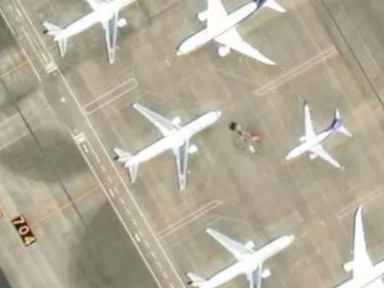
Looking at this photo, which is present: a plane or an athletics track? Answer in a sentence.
Of the two, only a plane appears.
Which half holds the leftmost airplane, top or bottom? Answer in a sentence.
Seen from above, the leftmost airplane lies in the top half of the view.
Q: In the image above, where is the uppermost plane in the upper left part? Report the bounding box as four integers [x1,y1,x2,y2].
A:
[45,0,135,61]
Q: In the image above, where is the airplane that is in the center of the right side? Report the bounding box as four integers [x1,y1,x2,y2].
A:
[286,100,353,166]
